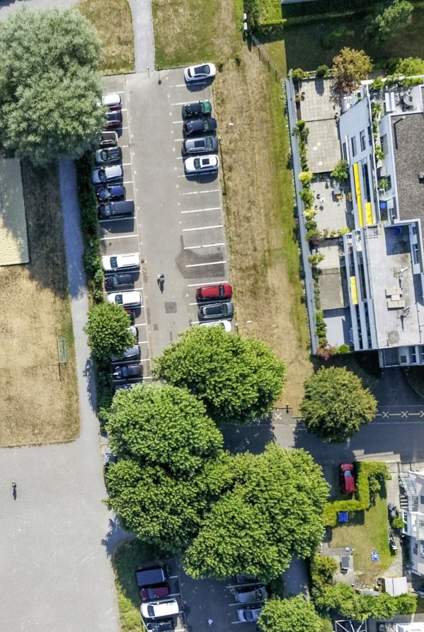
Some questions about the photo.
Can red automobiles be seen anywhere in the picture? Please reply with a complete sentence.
Yes, I can see a red automobile in this picture.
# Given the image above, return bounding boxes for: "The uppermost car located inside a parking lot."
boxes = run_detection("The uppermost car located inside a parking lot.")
[182,65,215,83]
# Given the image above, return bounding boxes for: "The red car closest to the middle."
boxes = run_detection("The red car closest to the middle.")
[195,283,230,302]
